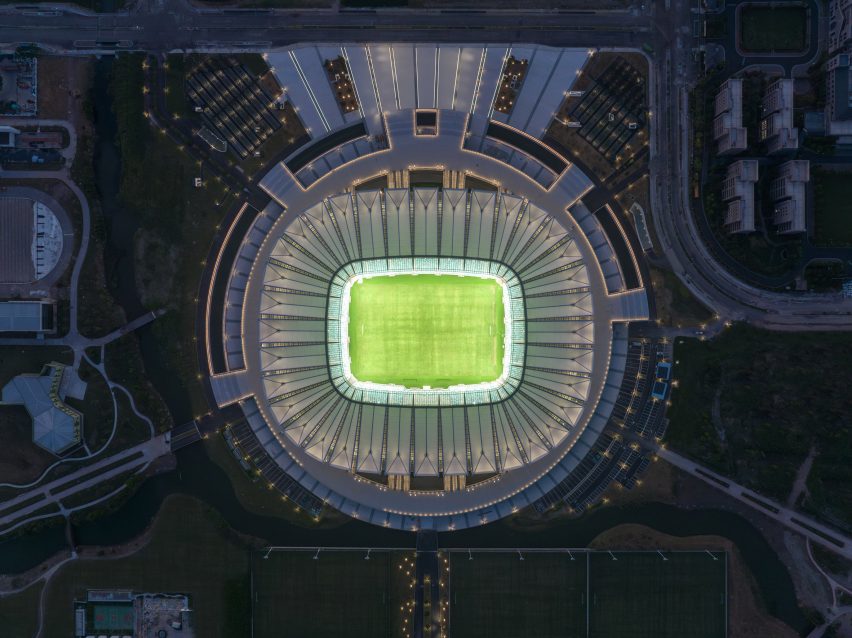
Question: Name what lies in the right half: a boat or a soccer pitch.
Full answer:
The one visible in the right half is a soccer pitch.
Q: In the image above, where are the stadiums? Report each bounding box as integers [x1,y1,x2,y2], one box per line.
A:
[205,109,648,532]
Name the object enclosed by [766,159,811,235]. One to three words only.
building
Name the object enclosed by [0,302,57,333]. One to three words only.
building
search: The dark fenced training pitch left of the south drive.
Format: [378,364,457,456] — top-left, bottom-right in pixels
[252,550,390,638]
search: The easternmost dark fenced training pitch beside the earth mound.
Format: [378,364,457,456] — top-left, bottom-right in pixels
[589,550,727,638]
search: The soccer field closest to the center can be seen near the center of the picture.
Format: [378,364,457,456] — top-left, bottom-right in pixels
[344,270,508,391]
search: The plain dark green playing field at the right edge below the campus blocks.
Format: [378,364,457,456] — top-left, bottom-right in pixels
[806,172,852,246]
